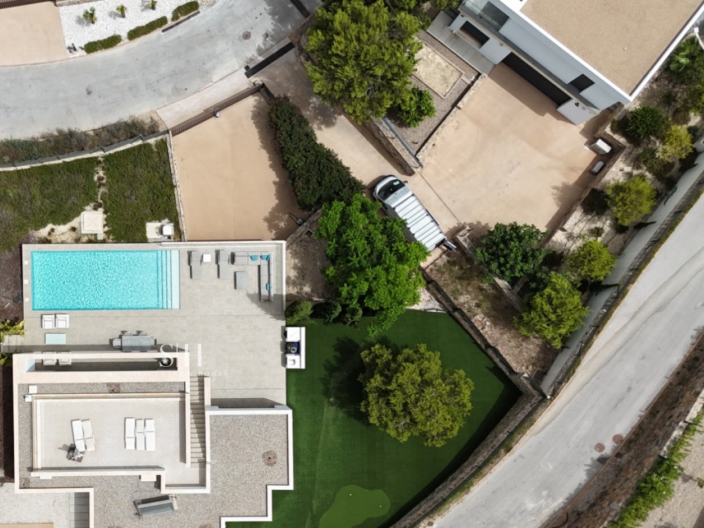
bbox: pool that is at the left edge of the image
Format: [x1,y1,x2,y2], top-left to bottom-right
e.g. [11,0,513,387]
[28,249,180,312]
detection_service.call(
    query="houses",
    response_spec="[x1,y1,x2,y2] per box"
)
[14,351,293,528]
[433,0,701,135]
